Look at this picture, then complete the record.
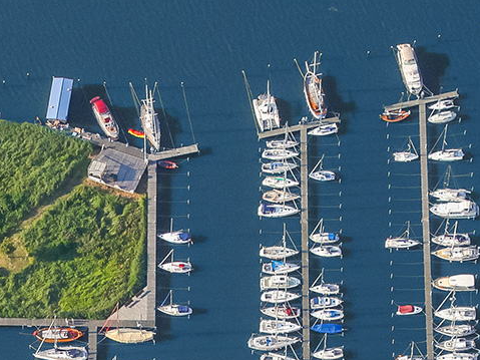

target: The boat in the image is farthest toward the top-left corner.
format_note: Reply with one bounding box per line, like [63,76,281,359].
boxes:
[90,94,115,138]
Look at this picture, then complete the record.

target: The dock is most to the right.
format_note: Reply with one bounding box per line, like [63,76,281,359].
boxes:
[383,91,459,360]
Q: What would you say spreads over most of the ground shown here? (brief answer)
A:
water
